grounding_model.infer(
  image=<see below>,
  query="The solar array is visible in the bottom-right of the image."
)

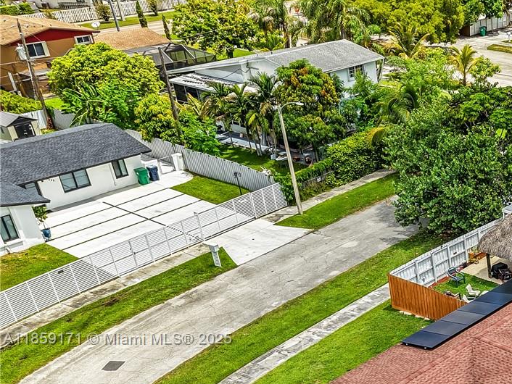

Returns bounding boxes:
[402,279,512,345]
